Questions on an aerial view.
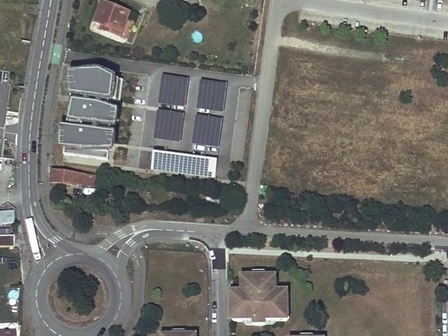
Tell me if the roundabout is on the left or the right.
left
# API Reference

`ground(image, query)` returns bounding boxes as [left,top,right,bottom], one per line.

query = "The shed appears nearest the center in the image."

[152,150,217,180]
